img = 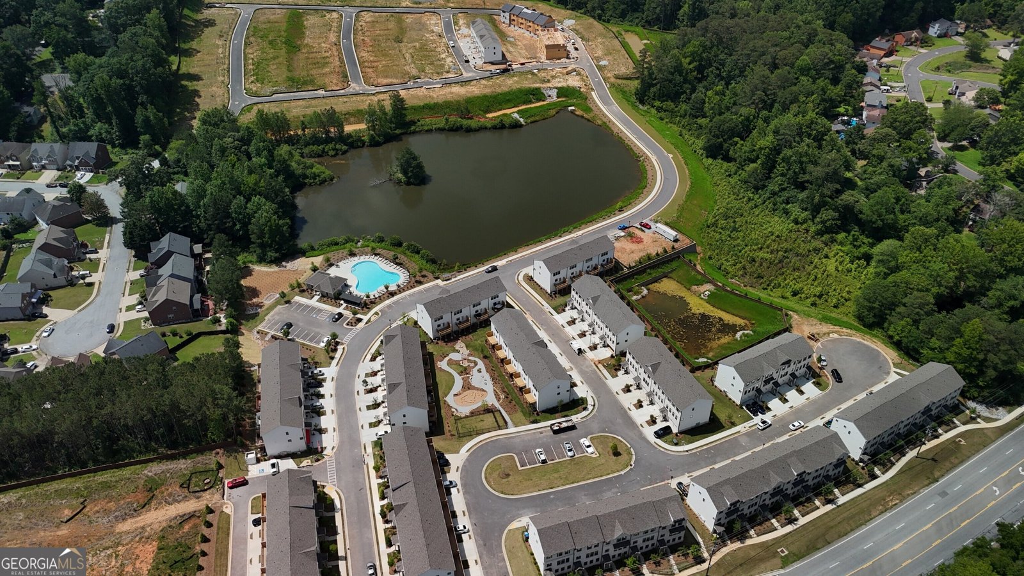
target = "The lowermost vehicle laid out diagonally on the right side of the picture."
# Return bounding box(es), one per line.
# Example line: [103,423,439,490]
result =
[674,479,689,499]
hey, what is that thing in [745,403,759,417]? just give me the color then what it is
black car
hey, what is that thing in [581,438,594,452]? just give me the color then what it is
white vehicle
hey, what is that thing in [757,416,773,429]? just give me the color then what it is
white vehicle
